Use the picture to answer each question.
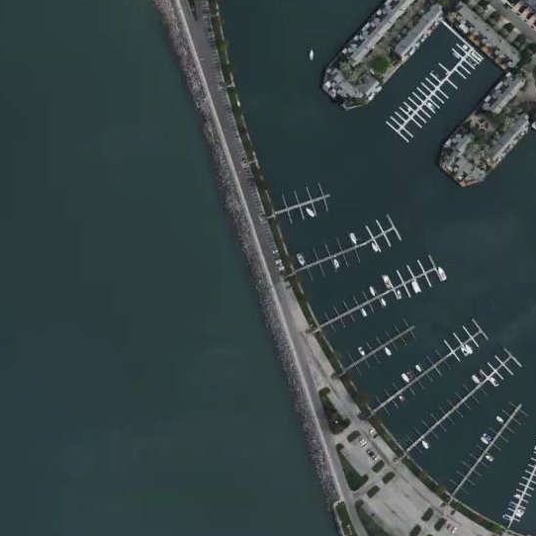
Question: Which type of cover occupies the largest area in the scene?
water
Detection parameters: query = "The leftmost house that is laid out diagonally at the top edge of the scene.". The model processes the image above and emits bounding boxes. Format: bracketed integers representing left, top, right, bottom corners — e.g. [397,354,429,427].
[336,0,411,66]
